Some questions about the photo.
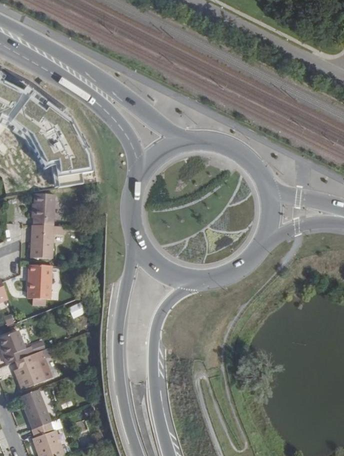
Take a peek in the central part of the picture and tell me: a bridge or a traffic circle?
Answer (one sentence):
The one visible in the central part of the picture is a traffic circle.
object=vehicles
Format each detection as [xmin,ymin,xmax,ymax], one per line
[138,240,148,251]
[124,96,136,106]
[149,263,160,273]
[134,230,142,240]
[331,200,344,207]
[11,262,16,272]
[134,180,140,198]
[118,334,123,344]
[7,38,18,47]
[4,230,10,240]
[234,259,244,267]
[56,76,94,104]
